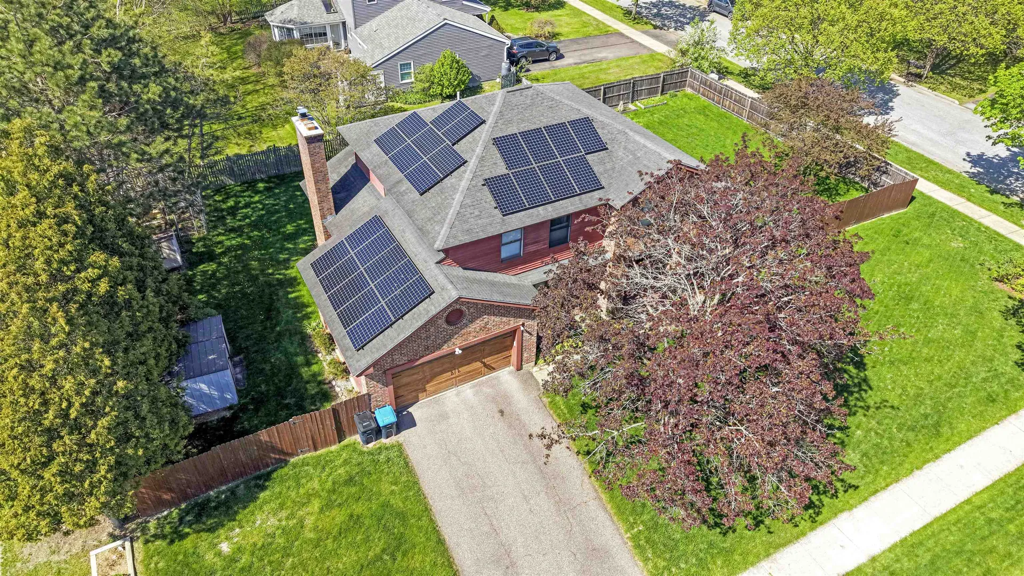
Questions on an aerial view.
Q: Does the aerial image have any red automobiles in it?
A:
No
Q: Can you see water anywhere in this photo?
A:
No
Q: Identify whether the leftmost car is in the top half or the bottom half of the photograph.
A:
top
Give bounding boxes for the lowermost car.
[504,35,558,65]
